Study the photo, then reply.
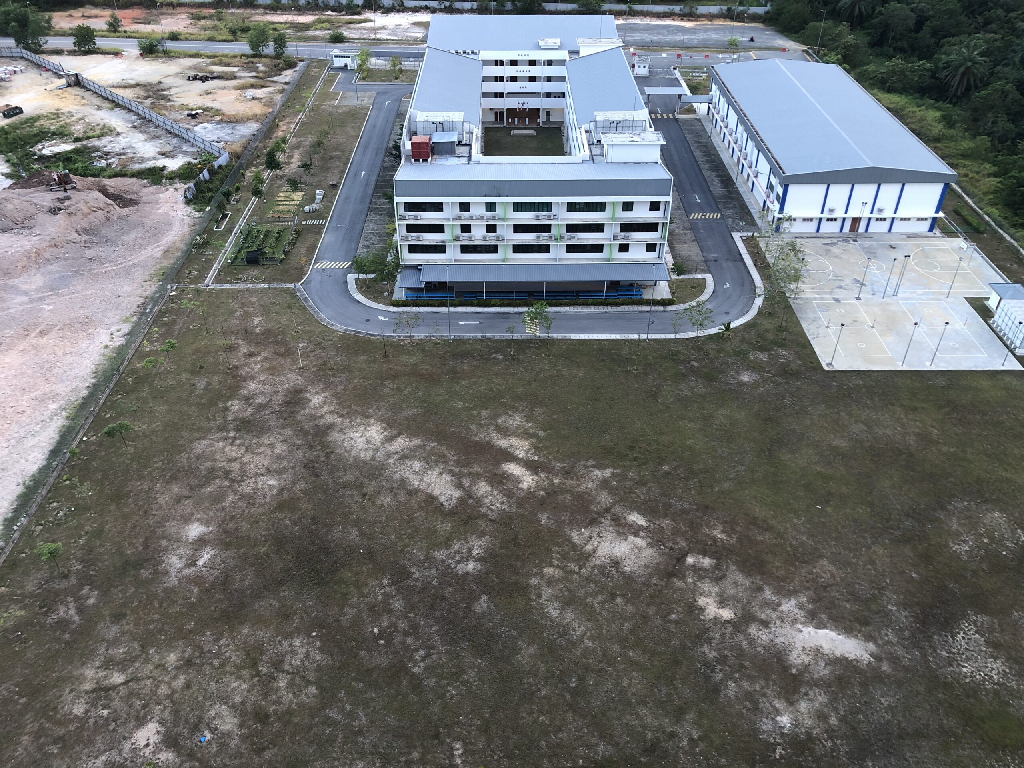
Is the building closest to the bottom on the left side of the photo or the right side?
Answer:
right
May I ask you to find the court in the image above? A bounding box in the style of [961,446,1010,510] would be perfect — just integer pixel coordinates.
[760,238,1024,370]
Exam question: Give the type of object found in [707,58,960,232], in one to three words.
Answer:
building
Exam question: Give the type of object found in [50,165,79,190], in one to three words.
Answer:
work vehicle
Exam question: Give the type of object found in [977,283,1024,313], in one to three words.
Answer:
building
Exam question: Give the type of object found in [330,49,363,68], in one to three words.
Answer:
shed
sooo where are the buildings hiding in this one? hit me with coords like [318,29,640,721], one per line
[330,49,363,68]
[977,283,1024,313]
[707,58,960,232]
[60,70,83,86]
[392,14,674,299]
